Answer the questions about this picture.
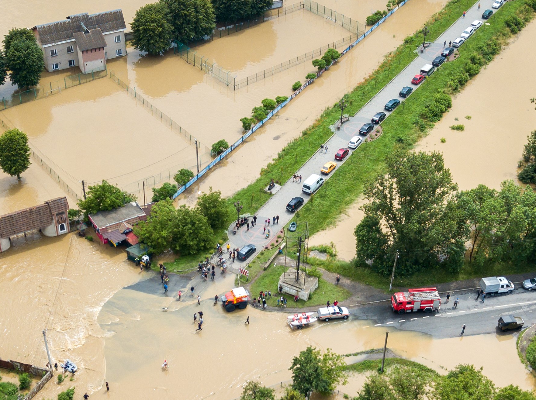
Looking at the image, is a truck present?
Yes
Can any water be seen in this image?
Yes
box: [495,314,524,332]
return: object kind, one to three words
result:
car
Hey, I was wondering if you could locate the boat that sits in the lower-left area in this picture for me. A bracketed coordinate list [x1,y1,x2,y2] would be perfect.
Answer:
[60,359,78,373]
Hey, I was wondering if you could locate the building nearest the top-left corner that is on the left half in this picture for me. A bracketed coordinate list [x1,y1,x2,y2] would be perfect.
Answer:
[31,9,129,74]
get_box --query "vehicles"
[283,197,305,215]
[521,278,536,292]
[333,148,350,163]
[301,176,324,197]
[399,87,414,99]
[418,63,436,79]
[481,9,494,20]
[220,288,248,312]
[411,75,425,86]
[346,136,364,151]
[389,281,445,315]
[440,47,455,58]
[370,112,388,125]
[357,123,376,137]
[234,244,259,264]
[470,20,483,31]
[316,305,351,322]
[432,56,446,68]
[460,24,474,38]
[319,162,338,177]
[478,276,516,297]
[495,314,524,332]
[450,36,466,48]
[383,98,401,112]
[491,0,504,9]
